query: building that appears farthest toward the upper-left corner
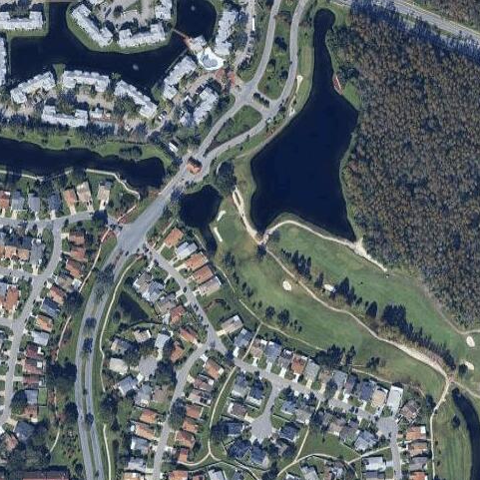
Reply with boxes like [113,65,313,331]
[0,12,43,28]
